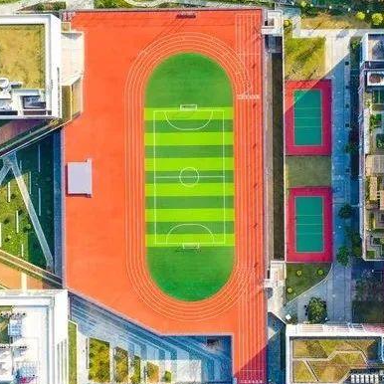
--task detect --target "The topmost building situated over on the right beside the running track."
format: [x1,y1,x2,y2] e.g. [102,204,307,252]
[264,9,283,29]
